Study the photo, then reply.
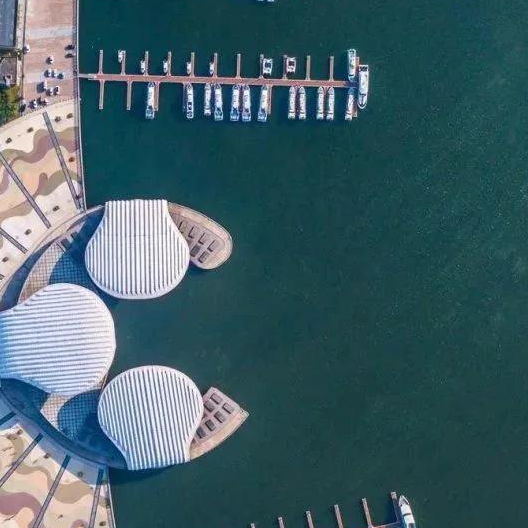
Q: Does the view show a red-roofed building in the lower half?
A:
No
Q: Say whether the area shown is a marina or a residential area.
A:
marina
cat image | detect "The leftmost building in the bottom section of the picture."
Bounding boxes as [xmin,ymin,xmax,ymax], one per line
[0,282,116,395]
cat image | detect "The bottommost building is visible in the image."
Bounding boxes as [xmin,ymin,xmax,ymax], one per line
[98,365,203,469]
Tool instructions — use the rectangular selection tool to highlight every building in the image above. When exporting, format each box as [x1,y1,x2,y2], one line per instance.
[98,365,203,469]
[0,282,116,395]
[85,199,189,299]
[0,57,17,87]
[0,0,19,53]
